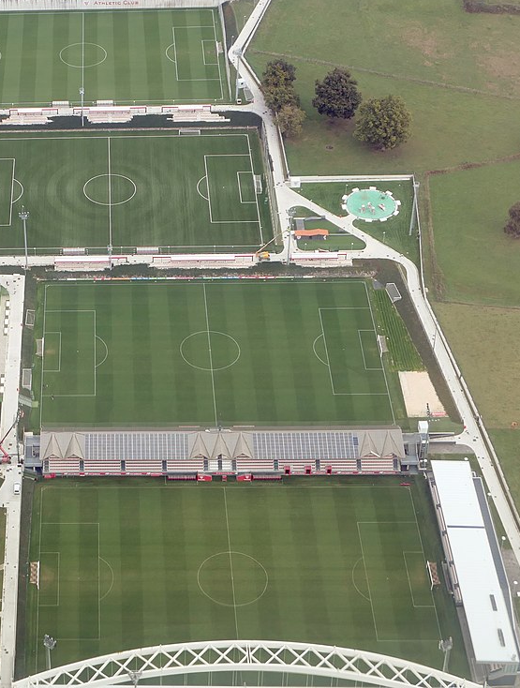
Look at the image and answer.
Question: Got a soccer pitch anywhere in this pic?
Yes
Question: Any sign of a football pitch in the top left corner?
Yes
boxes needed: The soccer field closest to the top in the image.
[0,6,231,105]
